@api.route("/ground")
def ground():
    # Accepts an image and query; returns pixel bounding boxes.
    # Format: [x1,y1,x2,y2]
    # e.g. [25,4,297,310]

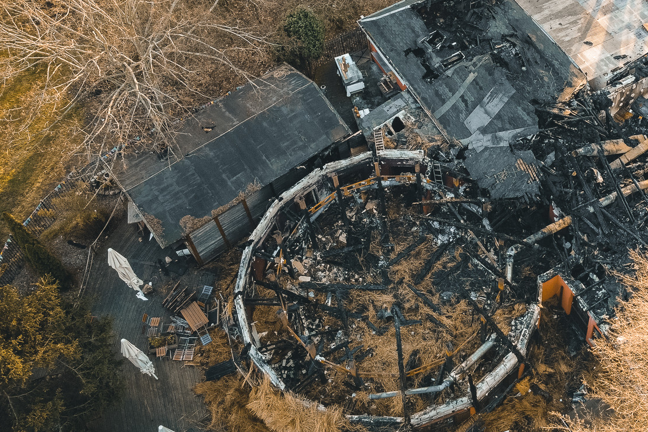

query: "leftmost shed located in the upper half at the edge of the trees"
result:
[98,60,353,273]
